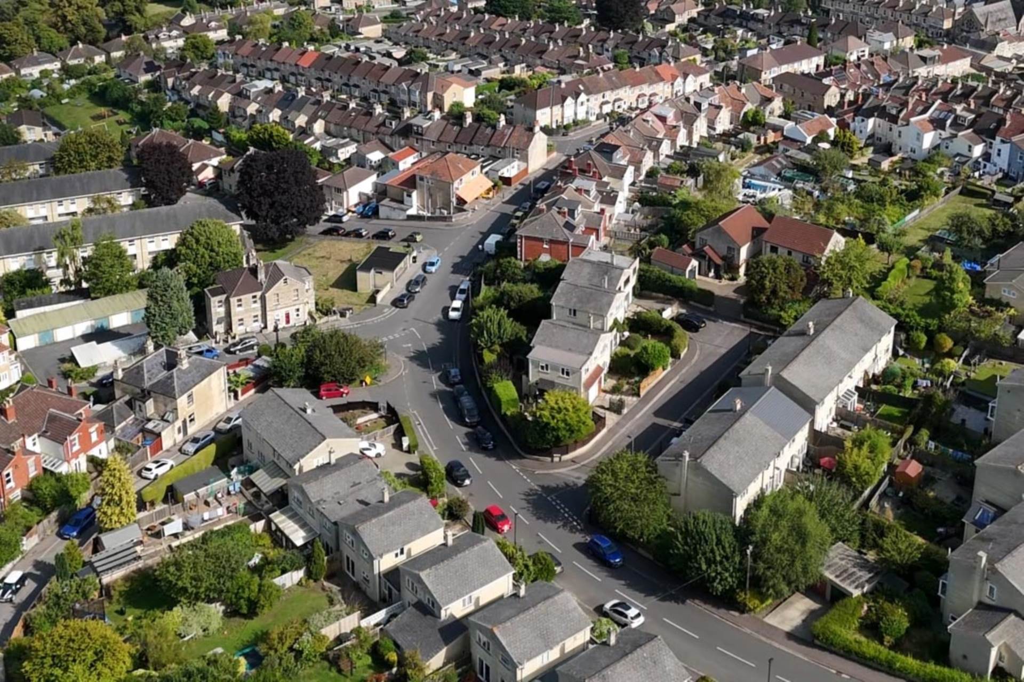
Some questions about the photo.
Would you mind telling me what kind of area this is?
residential area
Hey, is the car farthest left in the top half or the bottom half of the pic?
bottom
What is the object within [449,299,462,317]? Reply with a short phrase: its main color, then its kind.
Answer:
white vehicle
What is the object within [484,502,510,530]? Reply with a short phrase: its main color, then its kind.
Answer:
red car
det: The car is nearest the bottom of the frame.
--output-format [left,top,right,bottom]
[602,599,646,626]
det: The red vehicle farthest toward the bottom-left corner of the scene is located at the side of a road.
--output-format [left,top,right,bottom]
[319,384,350,401]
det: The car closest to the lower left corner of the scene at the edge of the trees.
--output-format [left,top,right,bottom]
[0,570,24,599]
